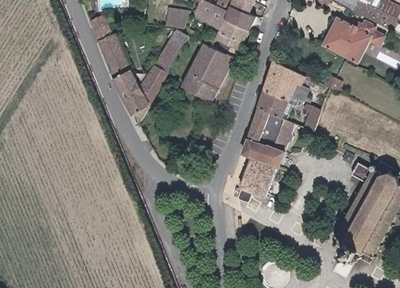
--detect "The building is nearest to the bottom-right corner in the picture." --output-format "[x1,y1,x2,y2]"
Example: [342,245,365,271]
[332,163,400,278]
